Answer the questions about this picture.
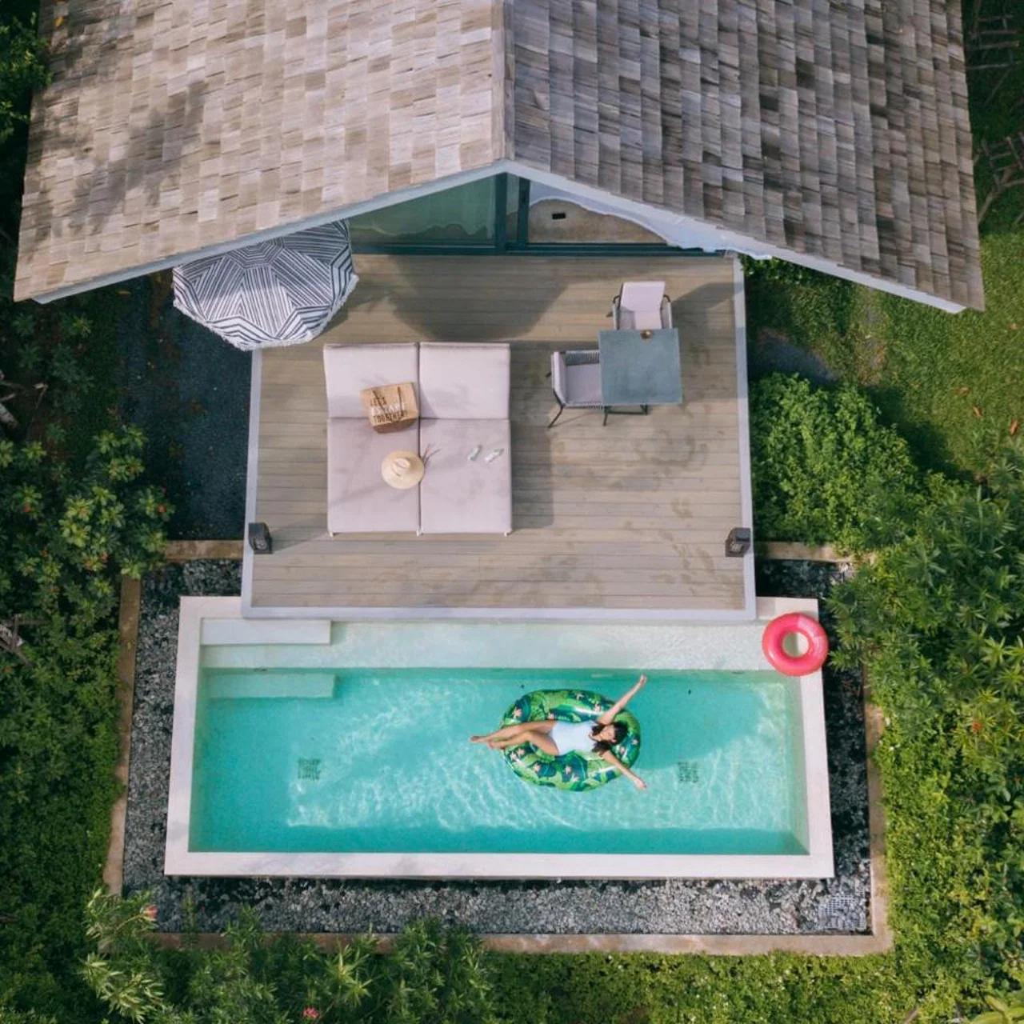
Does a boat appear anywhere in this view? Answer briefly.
No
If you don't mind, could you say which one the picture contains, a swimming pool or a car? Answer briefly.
swimming pool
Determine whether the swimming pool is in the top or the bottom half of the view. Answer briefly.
bottom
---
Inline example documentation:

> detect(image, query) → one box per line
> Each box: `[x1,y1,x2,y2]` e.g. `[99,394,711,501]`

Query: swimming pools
[163,598,834,879]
